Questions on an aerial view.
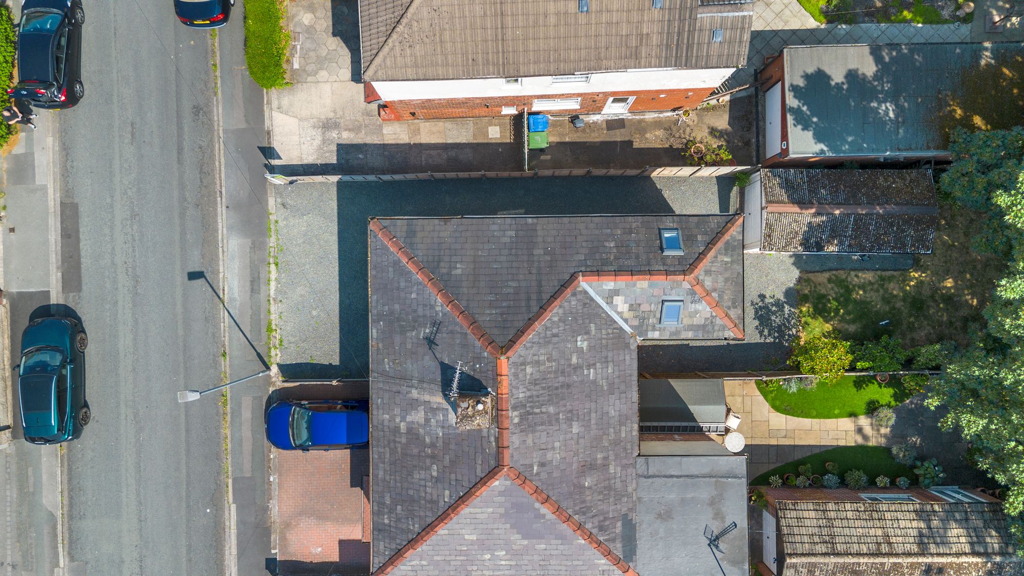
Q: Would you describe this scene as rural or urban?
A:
urban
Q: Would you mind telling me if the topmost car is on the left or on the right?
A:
left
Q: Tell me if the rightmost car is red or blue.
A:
blue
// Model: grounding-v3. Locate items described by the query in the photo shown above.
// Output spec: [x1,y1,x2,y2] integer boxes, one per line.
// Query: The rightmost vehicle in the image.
[266,398,365,456]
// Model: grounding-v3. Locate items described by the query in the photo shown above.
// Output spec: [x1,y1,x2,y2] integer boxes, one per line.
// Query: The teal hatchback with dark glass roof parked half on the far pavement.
[16,317,89,441]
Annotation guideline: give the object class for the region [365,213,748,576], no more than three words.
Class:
house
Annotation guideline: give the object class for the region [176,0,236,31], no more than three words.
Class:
car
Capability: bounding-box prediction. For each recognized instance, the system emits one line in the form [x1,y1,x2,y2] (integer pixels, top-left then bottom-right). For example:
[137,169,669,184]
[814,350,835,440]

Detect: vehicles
[3,0,84,111]
[176,0,236,31]
[16,317,89,441]
[266,398,365,456]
